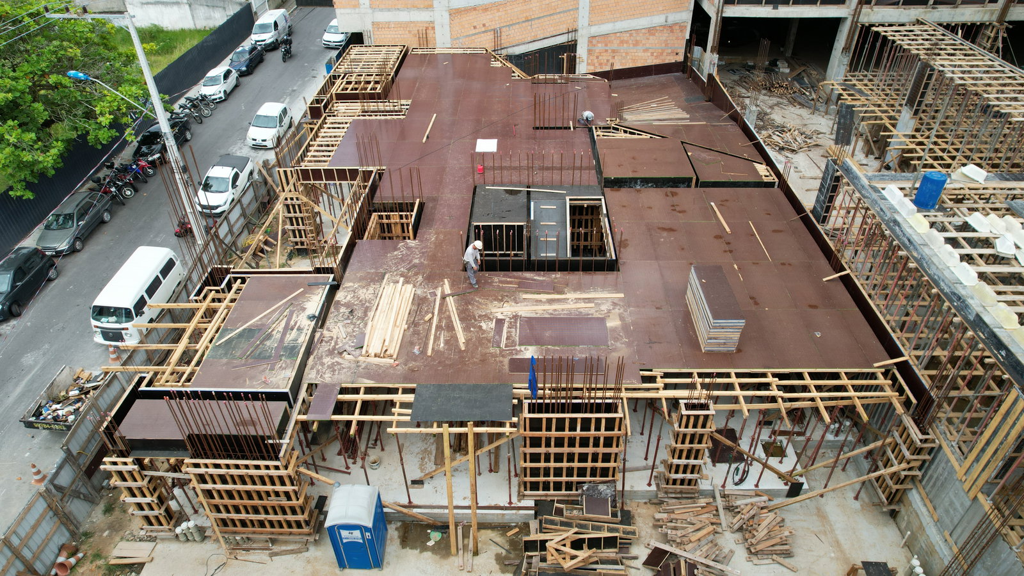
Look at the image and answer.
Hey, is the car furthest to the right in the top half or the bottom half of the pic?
top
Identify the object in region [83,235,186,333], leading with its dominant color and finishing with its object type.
white van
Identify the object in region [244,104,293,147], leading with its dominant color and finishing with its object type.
white car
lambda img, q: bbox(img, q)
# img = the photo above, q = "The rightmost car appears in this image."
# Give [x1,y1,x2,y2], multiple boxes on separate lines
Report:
[322,16,347,43]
